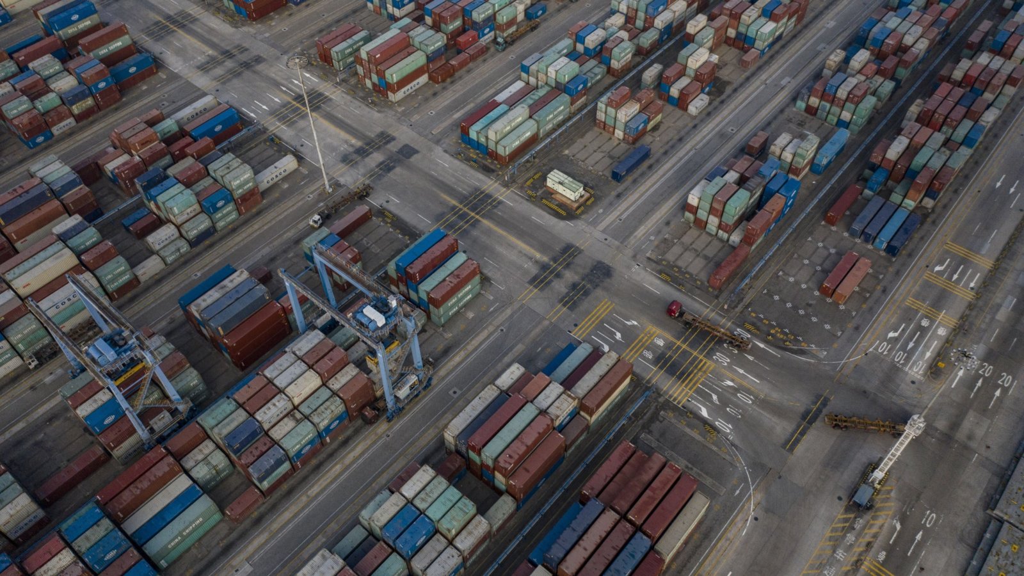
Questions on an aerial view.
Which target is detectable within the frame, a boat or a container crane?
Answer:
container crane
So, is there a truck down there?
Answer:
Yes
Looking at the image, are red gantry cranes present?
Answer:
No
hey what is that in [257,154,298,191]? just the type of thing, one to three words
shipping container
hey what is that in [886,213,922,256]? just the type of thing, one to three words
shipping container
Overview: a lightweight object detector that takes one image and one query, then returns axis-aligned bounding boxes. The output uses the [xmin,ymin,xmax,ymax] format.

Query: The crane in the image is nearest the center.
[273,238,441,426]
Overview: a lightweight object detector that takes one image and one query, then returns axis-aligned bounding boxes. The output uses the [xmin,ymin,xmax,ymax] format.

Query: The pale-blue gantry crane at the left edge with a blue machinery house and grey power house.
[13,264,203,456]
